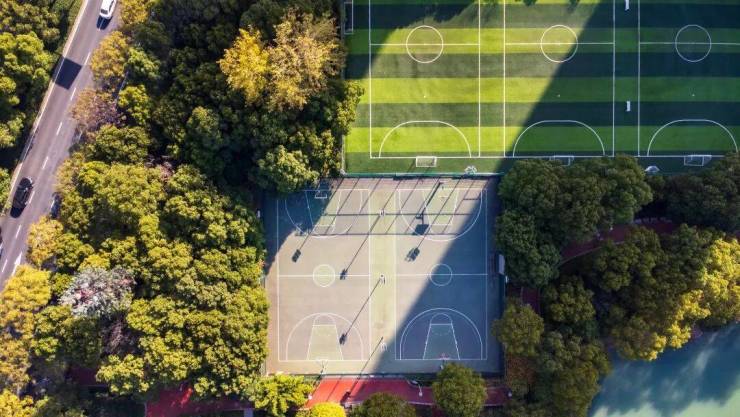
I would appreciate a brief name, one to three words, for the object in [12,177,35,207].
car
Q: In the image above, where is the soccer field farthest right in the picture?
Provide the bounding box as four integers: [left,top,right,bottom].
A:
[627,0,740,173]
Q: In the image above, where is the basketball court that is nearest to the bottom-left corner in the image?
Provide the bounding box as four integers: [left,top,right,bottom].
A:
[278,189,370,361]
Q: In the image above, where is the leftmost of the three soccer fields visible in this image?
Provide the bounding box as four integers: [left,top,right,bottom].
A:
[345,0,492,174]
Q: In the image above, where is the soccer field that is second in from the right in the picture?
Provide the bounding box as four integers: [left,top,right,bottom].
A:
[492,0,627,174]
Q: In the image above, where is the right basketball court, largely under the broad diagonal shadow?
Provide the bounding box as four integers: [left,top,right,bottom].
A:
[396,189,487,359]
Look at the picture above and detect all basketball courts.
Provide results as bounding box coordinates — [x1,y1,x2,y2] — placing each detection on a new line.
[396,189,487,359]
[278,189,370,361]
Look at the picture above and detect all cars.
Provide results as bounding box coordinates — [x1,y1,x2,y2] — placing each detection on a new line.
[12,177,35,207]
[101,0,119,20]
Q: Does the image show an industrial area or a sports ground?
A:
sports ground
